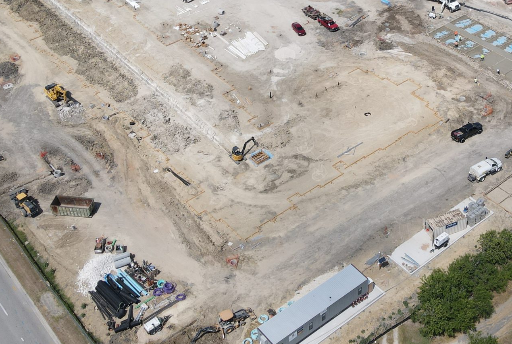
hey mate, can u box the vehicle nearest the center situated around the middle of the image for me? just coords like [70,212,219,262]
[228,135,260,167]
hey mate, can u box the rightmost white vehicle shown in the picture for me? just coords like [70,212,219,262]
[466,155,509,183]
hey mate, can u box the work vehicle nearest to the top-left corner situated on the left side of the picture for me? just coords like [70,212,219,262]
[43,81,73,109]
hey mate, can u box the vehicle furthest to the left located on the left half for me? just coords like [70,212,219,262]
[8,190,38,214]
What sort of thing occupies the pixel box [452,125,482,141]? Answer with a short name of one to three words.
vehicle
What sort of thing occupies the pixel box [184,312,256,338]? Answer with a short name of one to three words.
work vehicle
